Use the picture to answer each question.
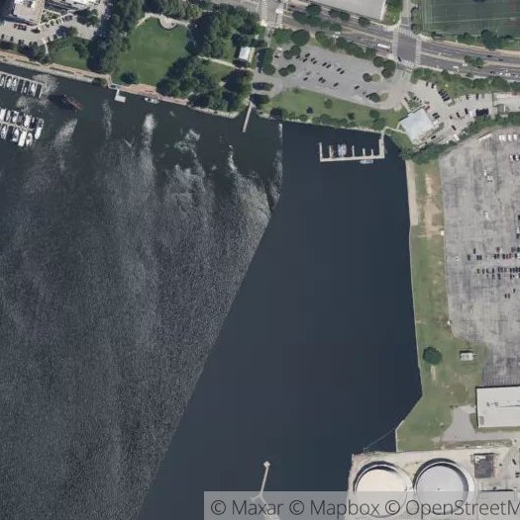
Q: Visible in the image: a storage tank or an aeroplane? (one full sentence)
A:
Looking from above, you can make out a storage tank.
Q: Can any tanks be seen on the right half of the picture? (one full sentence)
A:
Yes, a tank is visible on the right half of the picture.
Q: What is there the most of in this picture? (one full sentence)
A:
The largest share of the image is taken up by water.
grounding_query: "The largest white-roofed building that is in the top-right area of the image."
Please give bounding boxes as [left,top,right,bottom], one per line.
[399,109,435,144]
